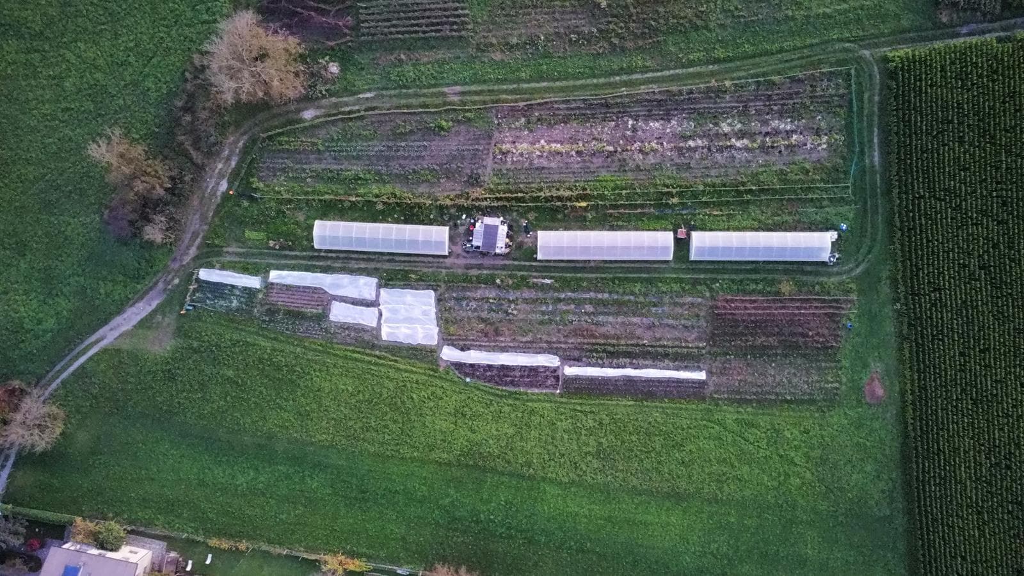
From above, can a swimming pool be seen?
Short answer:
No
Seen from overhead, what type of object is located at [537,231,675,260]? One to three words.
greenhouse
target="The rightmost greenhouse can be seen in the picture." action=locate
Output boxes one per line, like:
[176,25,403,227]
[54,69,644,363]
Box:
[689,231,836,261]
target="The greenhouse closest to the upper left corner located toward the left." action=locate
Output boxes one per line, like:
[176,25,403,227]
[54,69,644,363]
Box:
[312,220,450,255]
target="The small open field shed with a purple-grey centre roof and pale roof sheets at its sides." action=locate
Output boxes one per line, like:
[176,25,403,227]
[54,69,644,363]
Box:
[473,217,507,252]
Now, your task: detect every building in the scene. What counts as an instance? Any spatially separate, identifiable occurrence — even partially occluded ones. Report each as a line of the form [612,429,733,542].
[42,525,150,576]
[473,217,507,252]
[537,231,675,260]
[312,220,450,255]
[689,231,836,261]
